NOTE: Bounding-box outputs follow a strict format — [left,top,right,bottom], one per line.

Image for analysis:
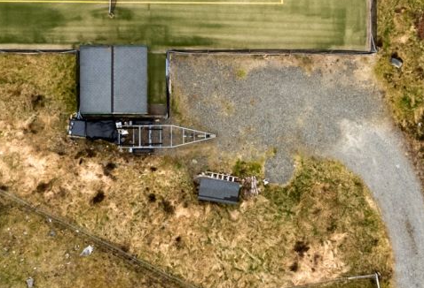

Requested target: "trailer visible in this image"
[119,120,218,153]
